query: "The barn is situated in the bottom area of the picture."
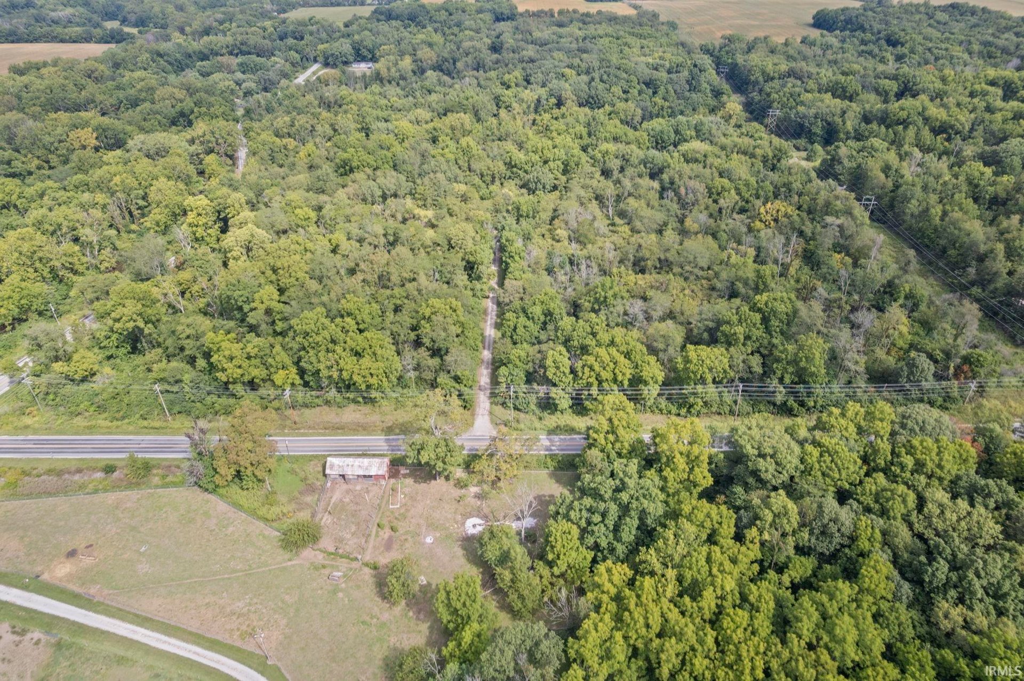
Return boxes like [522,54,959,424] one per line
[324,455,390,487]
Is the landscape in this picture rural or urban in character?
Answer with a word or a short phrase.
rural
